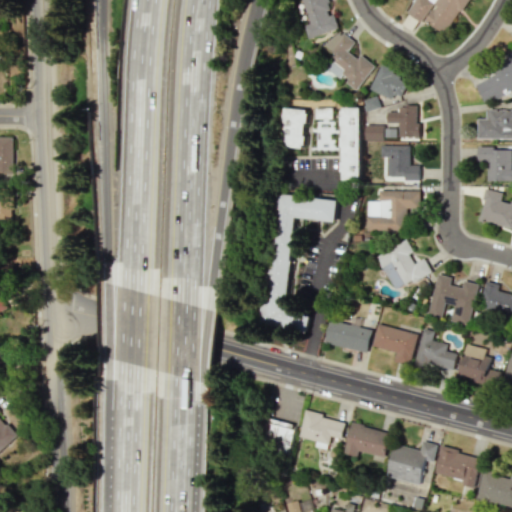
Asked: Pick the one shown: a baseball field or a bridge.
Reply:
bridge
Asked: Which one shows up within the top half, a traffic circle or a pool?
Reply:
pool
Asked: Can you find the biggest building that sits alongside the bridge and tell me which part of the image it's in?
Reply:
center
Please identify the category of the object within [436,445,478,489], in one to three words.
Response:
house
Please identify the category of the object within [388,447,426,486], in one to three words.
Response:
house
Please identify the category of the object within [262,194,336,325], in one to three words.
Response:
building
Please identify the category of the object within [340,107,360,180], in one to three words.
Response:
building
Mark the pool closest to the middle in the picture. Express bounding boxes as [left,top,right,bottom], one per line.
[375,280,409,301]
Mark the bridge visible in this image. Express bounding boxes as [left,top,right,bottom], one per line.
[97,262,218,406]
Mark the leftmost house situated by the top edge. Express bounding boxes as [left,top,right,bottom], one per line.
[302,0,338,38]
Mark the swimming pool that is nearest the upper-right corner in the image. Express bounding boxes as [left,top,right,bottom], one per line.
[309,66,338,90]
